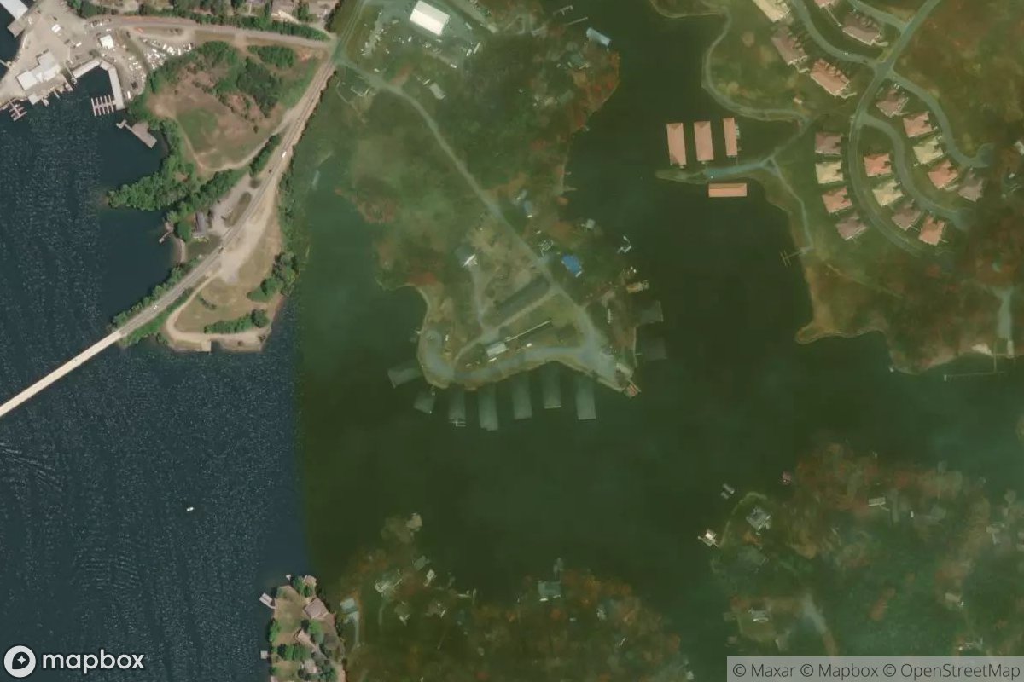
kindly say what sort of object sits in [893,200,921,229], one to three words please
house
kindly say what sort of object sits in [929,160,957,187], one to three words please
house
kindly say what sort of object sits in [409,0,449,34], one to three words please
building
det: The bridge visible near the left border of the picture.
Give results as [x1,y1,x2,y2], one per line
[0,329,122,417]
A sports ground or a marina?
marina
